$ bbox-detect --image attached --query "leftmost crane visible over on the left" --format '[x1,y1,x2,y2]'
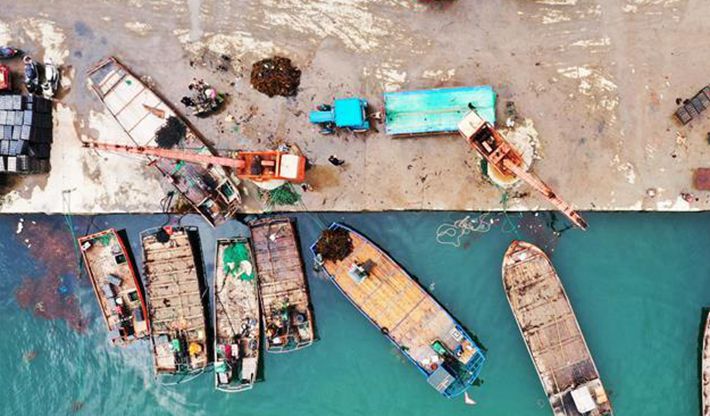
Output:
[82,142,308,198]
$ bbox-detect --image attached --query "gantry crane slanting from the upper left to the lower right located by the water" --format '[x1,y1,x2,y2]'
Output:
[456,114,587,229]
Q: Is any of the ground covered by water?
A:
Yes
